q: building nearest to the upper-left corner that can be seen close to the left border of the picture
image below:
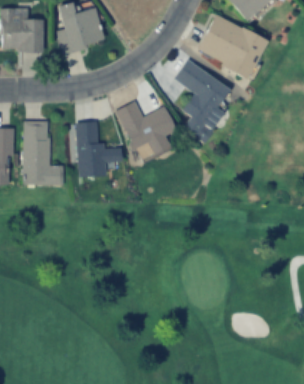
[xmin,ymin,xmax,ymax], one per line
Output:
[0,6,44,52]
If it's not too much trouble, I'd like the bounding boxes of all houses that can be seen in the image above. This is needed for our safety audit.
[116,100,178,160]
[0,128,14,184]
[24,120,64,186]
[231,0,271,20]
[197,16,268,76]
[77,119,122,176]
[56,1,104,53]
[176,58,232,140]
[0,6,44,52]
